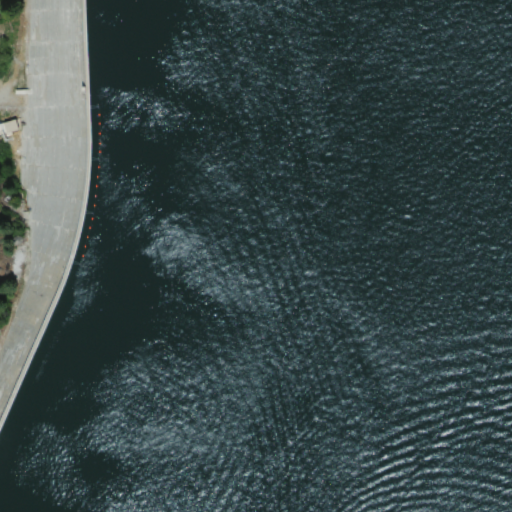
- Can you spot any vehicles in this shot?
No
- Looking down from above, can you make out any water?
Yes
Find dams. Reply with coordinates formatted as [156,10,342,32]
[0,0,91,433]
